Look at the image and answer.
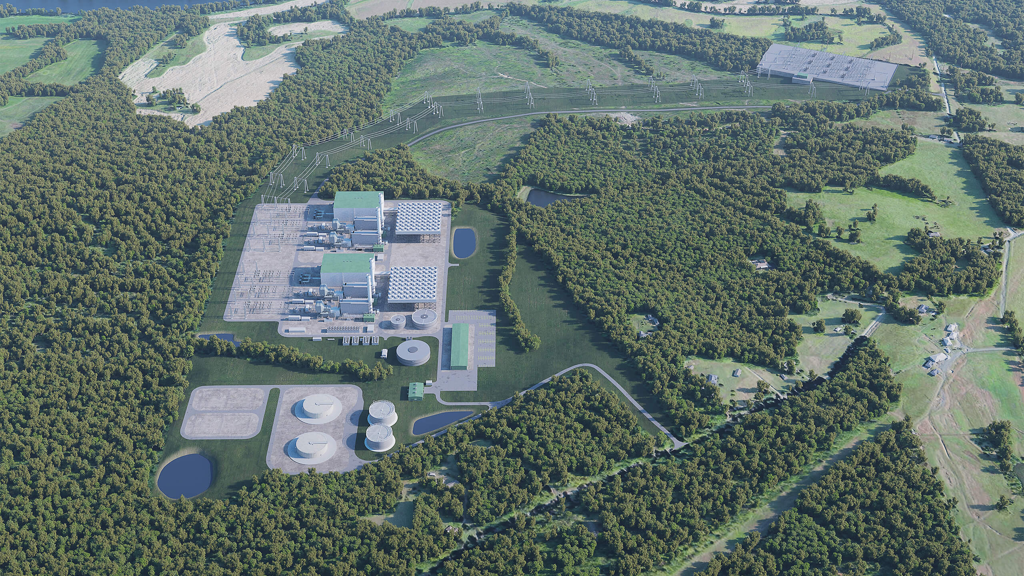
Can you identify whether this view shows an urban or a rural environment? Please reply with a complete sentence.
From above, the setting appears rural.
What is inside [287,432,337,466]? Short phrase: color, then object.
white storage tank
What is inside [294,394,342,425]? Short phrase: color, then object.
white storage tank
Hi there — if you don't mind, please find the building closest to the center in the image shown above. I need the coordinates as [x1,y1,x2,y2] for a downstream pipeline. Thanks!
[450,322,469,370]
